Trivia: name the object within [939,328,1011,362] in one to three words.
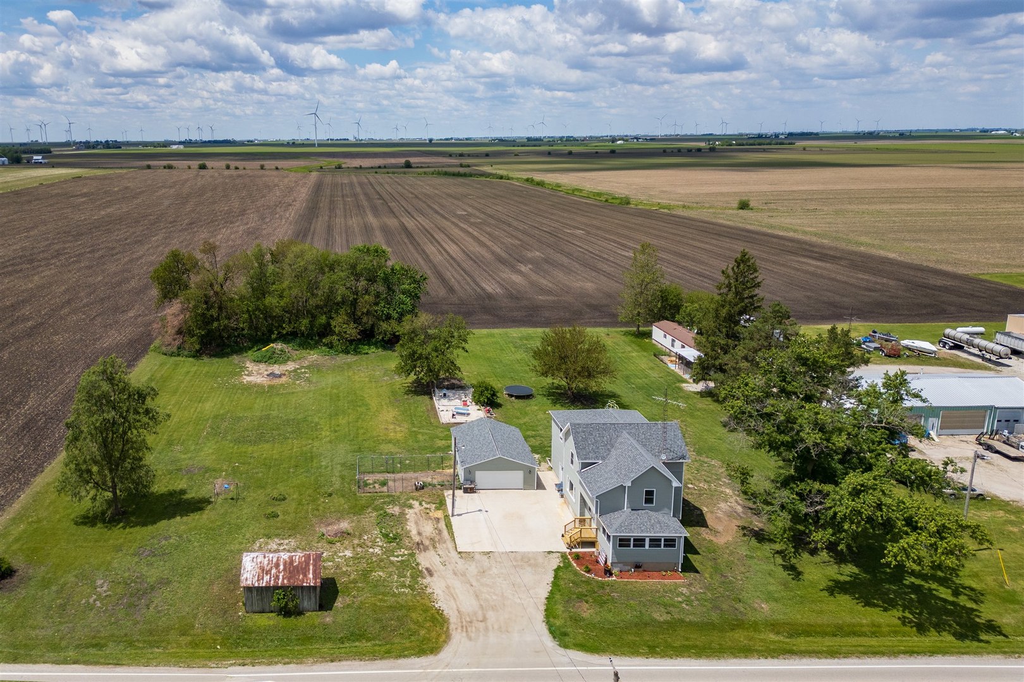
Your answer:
trailer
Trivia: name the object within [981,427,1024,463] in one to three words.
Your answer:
trailer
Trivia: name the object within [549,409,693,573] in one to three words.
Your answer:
house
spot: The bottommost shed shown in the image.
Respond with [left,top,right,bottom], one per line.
[239,559,326,613]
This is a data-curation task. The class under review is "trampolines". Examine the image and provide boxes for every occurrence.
[504,382,534,399]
